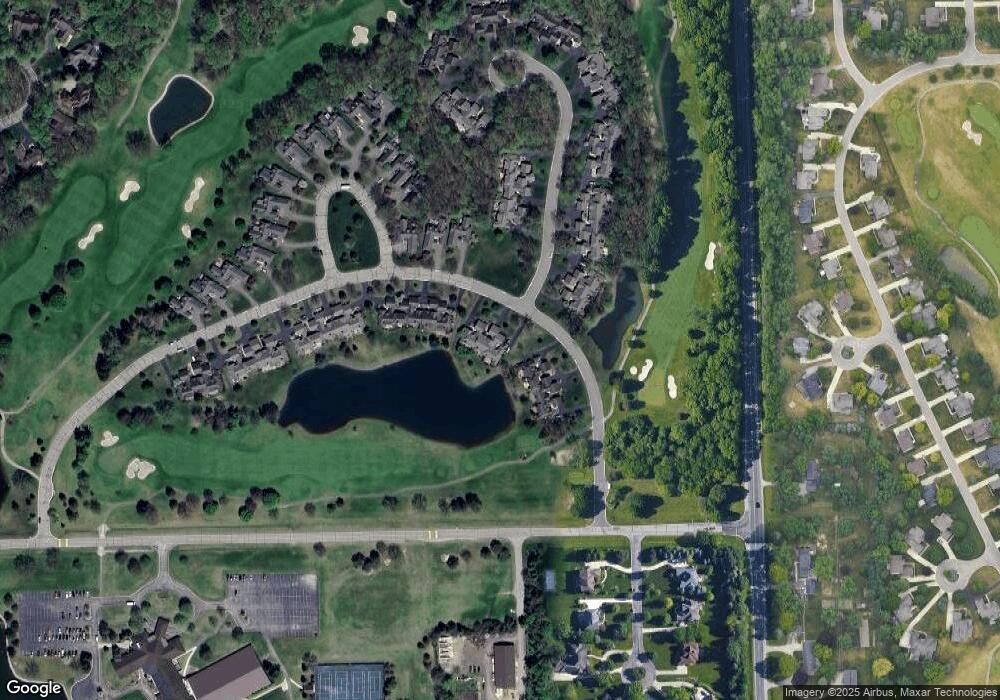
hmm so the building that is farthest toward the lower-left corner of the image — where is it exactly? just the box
[112,615,188,700]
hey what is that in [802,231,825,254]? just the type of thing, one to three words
house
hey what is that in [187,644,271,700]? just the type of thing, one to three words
building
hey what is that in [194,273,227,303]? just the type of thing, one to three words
house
